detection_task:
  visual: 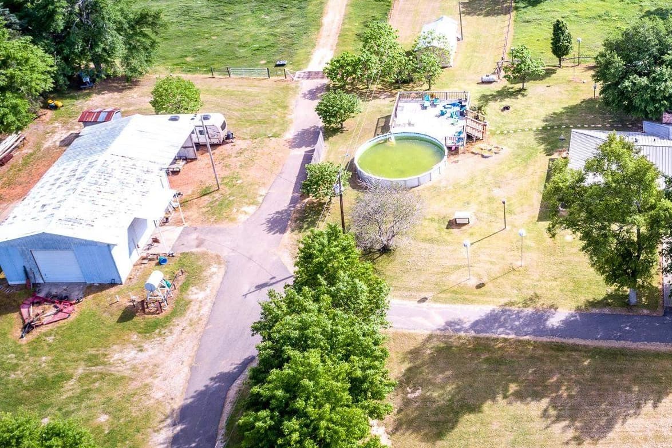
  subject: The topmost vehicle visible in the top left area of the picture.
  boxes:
[71,74,99,87]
